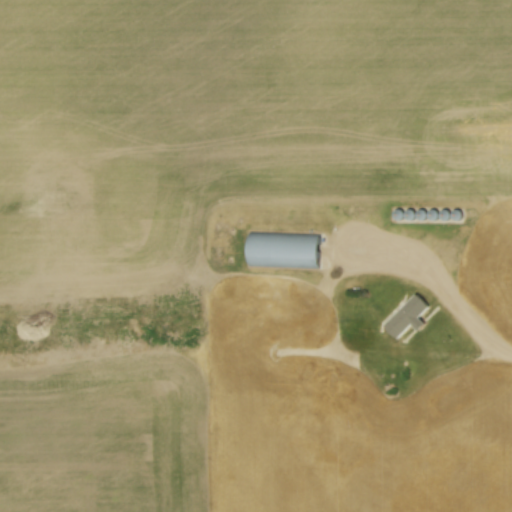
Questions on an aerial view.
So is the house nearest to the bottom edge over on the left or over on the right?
right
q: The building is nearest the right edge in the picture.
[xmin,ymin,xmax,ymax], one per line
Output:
[385,293,430,340]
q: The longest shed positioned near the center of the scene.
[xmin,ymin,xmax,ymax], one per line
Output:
[245,232,321,269]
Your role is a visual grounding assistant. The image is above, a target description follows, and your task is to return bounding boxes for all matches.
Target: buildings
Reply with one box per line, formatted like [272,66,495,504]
[385,293,430,340]
[245,232,321,269]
